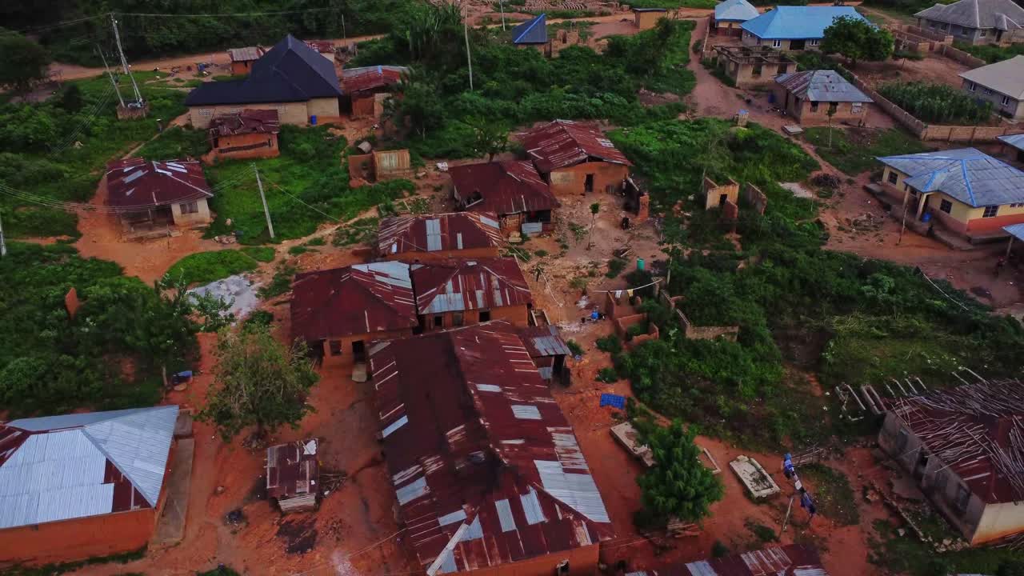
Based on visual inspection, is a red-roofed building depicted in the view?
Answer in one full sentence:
Yes, the frame does contain a red-roofed building.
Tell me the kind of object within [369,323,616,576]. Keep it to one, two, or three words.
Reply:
house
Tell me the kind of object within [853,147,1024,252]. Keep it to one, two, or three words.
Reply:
house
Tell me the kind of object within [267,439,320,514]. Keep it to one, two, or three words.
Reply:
shed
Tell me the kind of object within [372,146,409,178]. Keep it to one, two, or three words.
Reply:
shed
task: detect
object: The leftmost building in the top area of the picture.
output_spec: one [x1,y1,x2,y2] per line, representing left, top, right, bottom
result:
[105,160,213,243]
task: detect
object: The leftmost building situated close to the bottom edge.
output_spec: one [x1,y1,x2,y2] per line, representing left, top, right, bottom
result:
[0,405,179,563]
